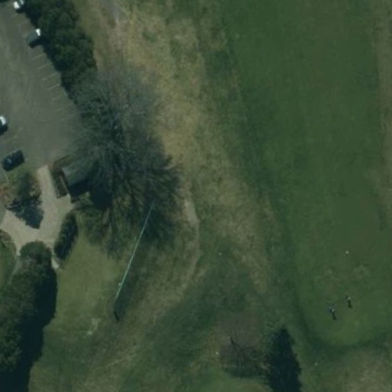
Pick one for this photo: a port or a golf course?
golf course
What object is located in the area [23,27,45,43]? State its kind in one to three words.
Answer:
car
